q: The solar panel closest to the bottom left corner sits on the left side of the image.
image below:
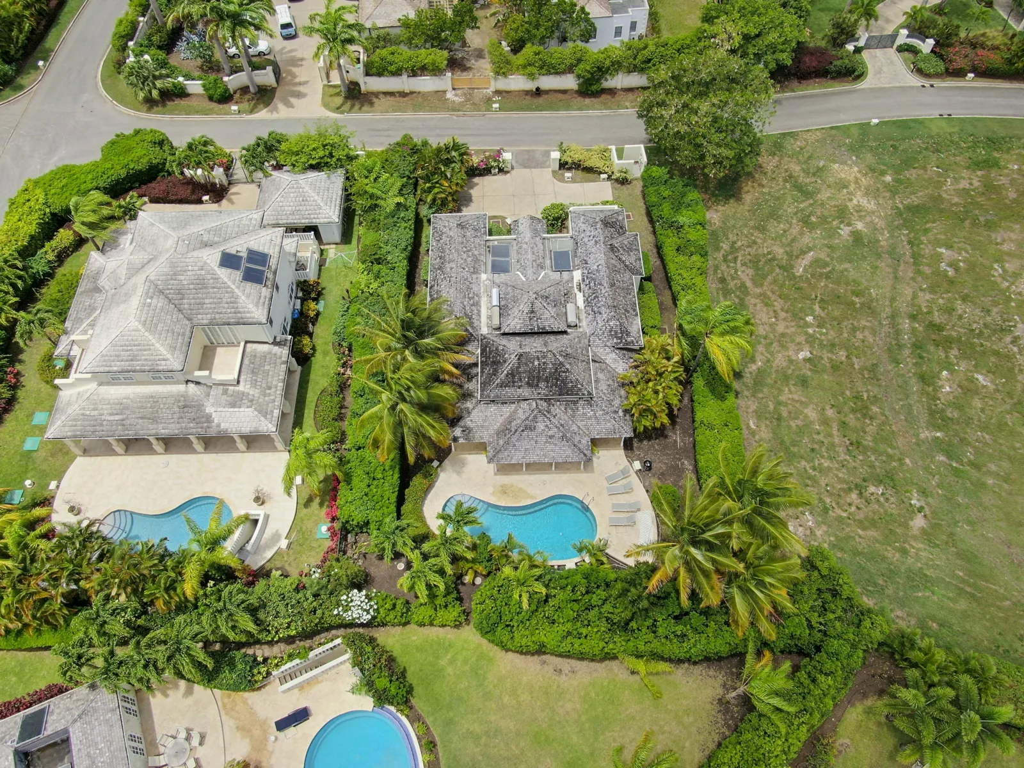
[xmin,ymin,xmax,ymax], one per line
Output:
[14,704,49,747]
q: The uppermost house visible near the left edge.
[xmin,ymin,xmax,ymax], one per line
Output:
[44,209,325,456]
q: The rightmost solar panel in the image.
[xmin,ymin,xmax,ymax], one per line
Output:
[552,249,572,271]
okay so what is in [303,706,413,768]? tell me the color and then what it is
blue swimming pool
